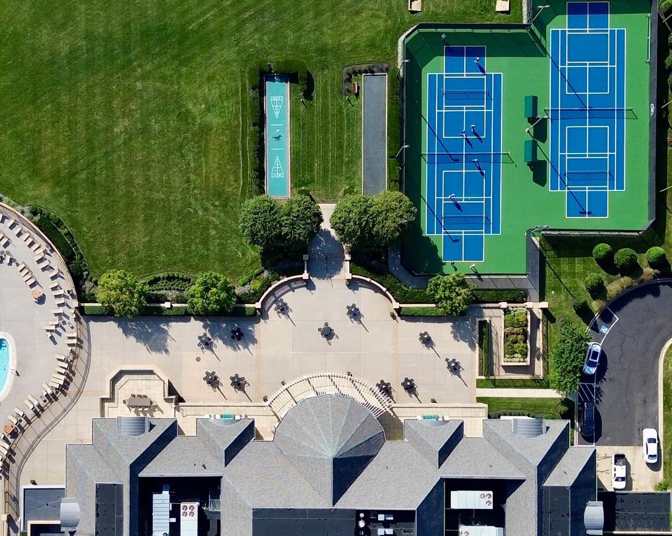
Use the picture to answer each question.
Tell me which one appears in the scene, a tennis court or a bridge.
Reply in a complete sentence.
It is a tennis court that can be seen here.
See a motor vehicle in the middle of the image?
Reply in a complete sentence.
No, I see no motor vehicle in the middle of the image.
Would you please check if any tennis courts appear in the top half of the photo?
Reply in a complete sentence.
Yes, in the top half of the photo there is a tennis court.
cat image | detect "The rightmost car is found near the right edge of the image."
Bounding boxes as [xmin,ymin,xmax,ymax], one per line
[642,429,659,464]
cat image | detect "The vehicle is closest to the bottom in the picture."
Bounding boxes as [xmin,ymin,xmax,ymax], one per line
[611,453,627,490]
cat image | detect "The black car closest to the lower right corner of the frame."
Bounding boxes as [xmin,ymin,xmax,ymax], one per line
[578,401,595,436]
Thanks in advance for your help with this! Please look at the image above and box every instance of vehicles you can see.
[611,453,627,490]
[578,401,595,436]
[582,342,602,376]
[642,429,659,464]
